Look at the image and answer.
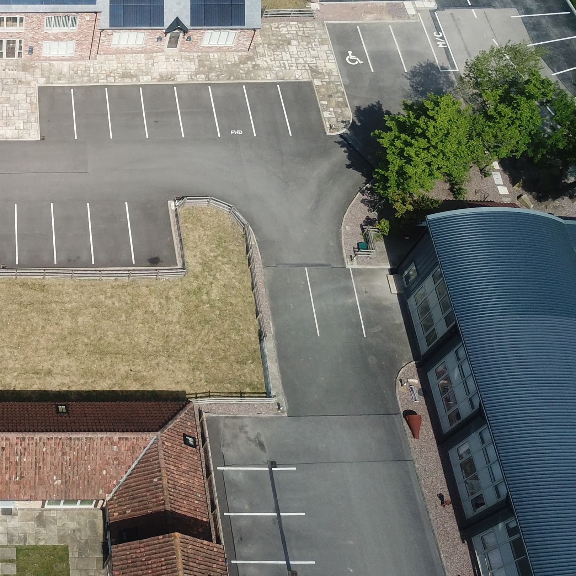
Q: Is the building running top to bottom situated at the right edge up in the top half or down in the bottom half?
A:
bottom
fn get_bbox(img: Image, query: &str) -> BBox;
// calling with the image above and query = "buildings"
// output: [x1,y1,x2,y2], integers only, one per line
[0,400,229,576]
[407,207,576,576]
[0,0,260,61]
